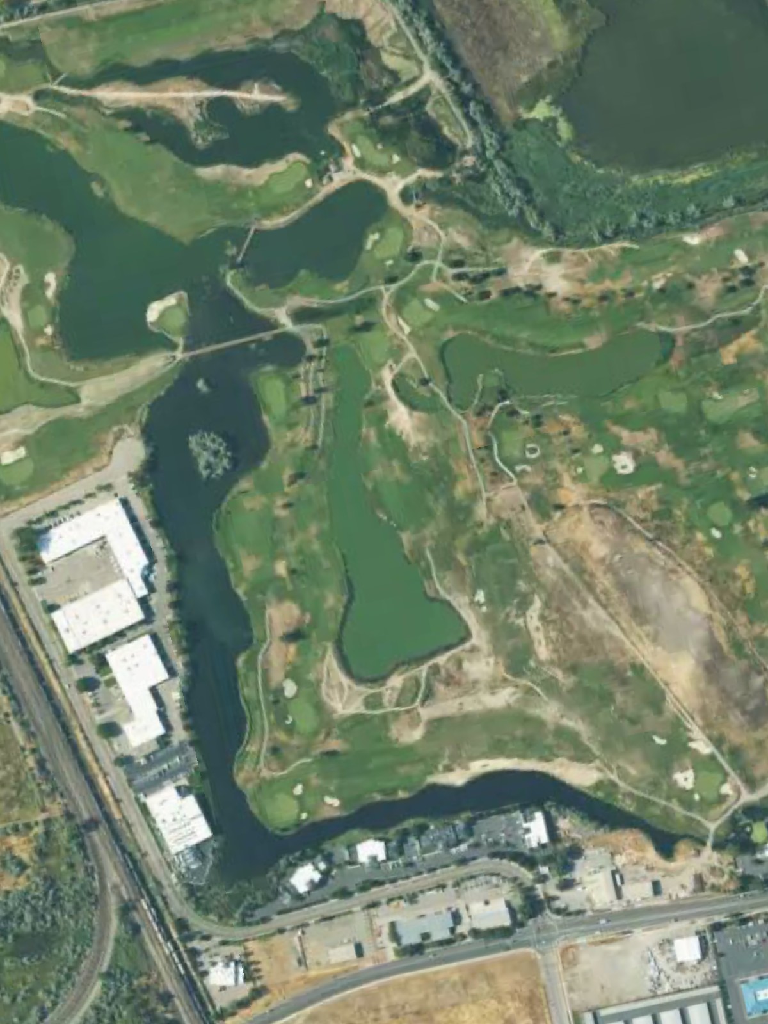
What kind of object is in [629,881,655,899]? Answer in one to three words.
shed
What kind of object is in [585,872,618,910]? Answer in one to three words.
building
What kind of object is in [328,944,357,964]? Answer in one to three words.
shed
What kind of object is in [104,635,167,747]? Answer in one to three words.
building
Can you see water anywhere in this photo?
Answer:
Yes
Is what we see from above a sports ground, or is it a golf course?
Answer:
golf course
